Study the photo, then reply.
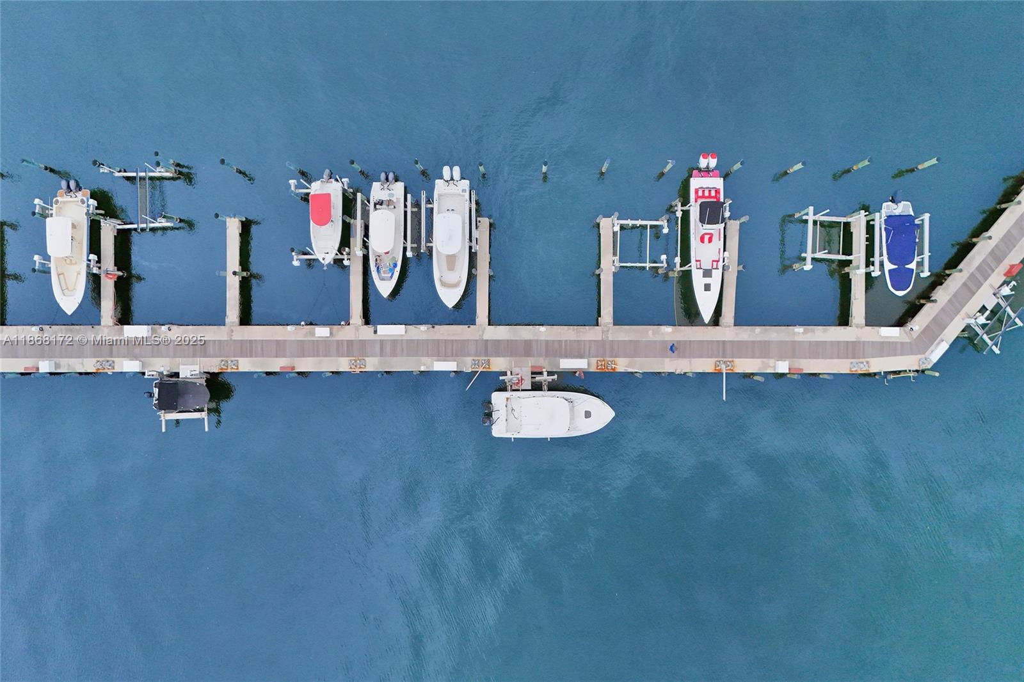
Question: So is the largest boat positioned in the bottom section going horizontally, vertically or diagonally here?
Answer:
horizontally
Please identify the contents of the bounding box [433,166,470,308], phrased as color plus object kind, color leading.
white boat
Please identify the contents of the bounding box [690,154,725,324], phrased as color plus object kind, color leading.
white boat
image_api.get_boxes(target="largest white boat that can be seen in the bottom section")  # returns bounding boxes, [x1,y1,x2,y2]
[482,391,616,438]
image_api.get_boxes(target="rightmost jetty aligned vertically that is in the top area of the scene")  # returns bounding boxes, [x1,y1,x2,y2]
[848,215,866,327]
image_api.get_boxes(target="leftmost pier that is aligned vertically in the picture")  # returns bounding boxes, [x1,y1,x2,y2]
[101,223,119,326]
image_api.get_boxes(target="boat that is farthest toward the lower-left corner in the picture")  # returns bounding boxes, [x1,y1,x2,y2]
[145,379,212,411]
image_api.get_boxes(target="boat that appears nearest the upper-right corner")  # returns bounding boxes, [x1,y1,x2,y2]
[879,191,920,297]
